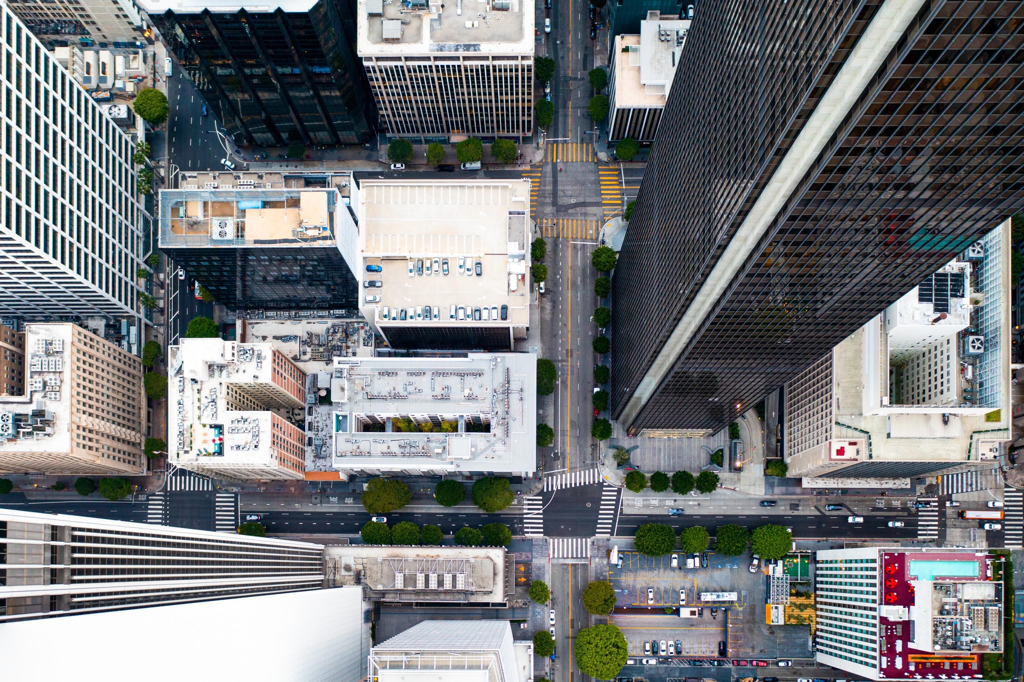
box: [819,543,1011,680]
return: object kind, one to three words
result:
building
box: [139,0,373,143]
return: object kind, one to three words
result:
building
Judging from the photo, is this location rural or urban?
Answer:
urban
